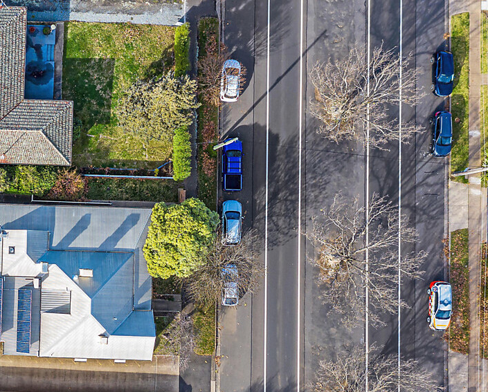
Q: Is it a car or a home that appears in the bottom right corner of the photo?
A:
car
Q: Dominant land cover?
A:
paved ground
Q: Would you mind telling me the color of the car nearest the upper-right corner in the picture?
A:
blue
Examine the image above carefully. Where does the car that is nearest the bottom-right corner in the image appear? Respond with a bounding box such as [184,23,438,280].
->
[426,282,453,330]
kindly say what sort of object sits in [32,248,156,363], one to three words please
house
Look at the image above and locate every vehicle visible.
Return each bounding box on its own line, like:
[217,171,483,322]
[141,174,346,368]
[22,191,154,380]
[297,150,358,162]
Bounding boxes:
[221,200,245,245]
[428,110,454,158]
[426,282,453,330]
[221,137,245,189]
[430,50,456,97]
[220,57,242,103]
